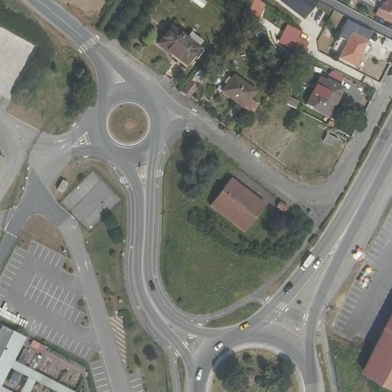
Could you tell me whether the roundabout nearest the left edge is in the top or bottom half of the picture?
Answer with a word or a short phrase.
top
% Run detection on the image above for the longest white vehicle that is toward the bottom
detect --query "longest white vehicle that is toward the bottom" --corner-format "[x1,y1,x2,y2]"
[300,252,316,271]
